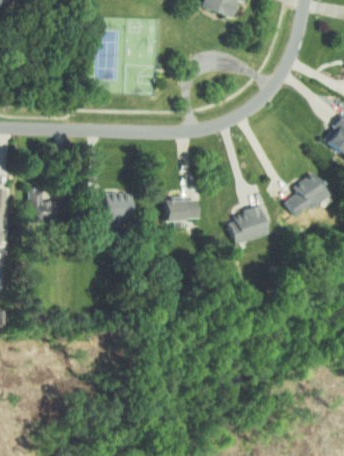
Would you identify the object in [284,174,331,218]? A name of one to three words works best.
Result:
house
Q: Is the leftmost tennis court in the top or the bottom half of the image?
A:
top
